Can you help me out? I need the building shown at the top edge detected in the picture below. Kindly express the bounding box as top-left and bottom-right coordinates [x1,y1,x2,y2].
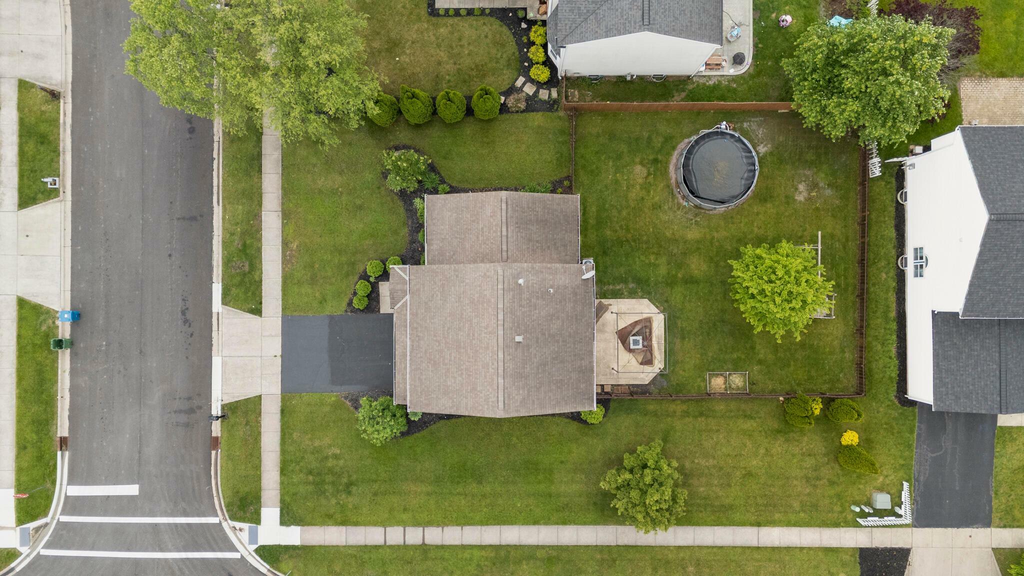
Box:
[547,0,724,83]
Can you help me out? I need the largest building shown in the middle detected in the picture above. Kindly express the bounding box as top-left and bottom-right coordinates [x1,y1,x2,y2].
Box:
[388,189,597,419]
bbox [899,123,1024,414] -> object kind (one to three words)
house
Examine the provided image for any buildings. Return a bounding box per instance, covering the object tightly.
[547,0,724,83]
[899,123,1024,414]
[388,189,597,419]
